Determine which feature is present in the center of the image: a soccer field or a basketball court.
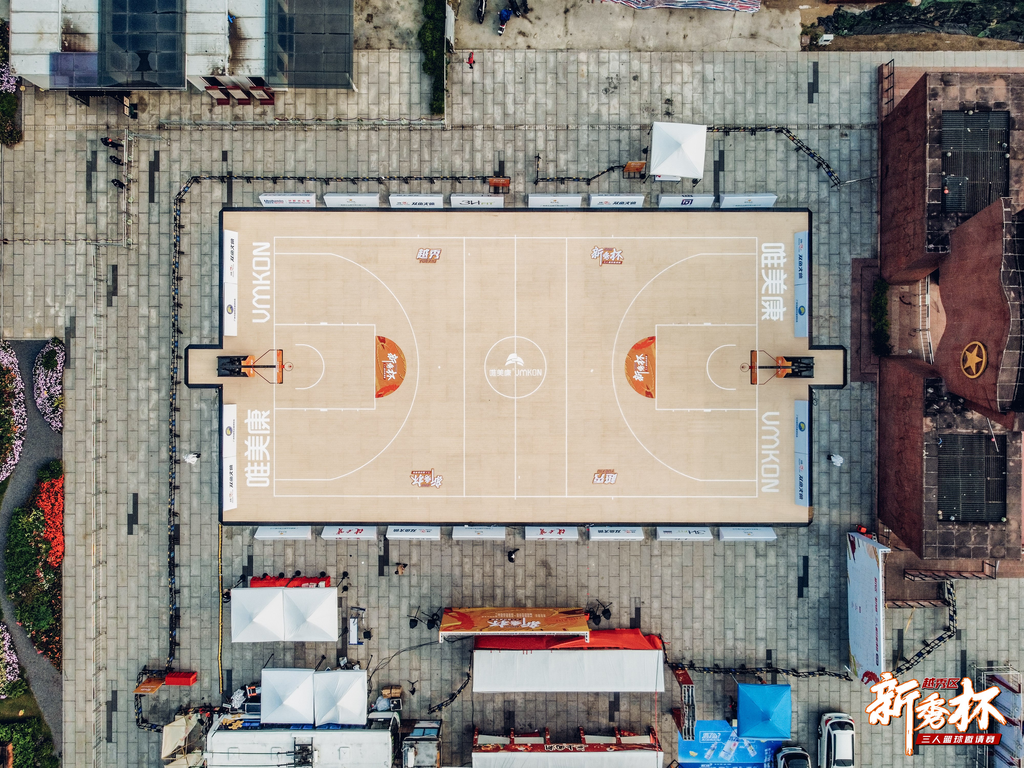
basketball court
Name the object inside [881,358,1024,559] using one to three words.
building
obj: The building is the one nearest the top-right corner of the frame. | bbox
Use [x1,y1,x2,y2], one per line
[882,72,1024,284]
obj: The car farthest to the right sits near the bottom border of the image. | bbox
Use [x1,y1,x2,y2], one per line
[818,712,860,768]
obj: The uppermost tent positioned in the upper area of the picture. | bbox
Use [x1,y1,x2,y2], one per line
[643,122,707,187]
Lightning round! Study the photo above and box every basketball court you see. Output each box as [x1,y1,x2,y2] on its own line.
[184,207,847,526]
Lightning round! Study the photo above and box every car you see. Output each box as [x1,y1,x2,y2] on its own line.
[775,743,811,768]
[818,712,860,768]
